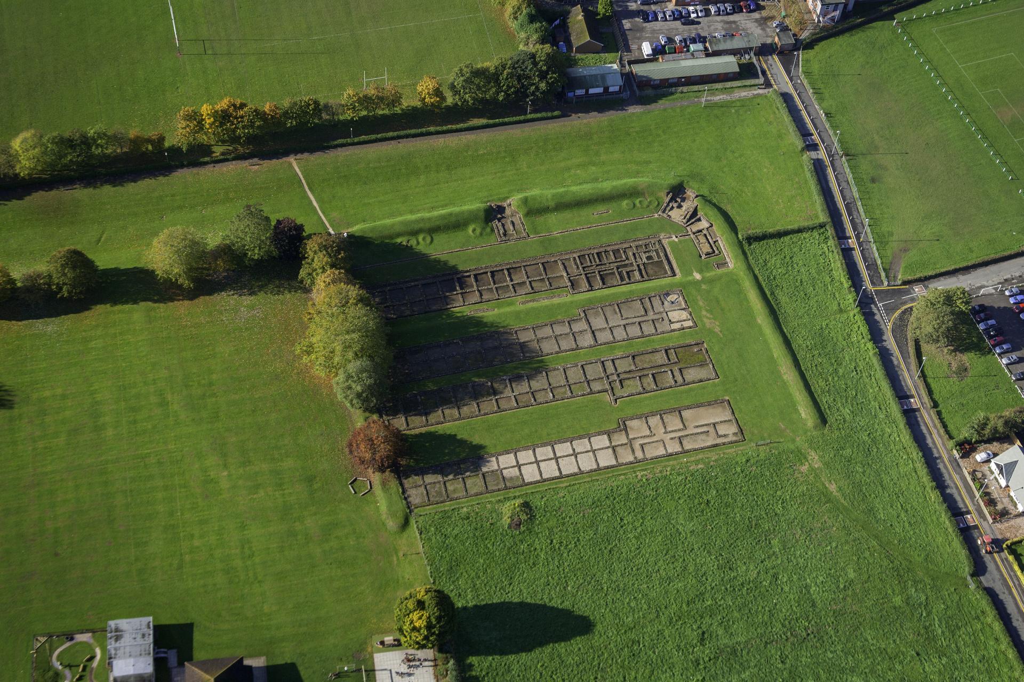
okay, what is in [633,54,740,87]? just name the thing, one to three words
building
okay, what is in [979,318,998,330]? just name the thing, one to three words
vehicle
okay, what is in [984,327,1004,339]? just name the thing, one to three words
vehicle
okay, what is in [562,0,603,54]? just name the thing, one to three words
house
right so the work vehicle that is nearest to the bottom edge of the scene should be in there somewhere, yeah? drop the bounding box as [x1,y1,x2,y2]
[978,534,997,561]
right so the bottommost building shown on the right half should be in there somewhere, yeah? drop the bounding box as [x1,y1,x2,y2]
[991,445,1024,506]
